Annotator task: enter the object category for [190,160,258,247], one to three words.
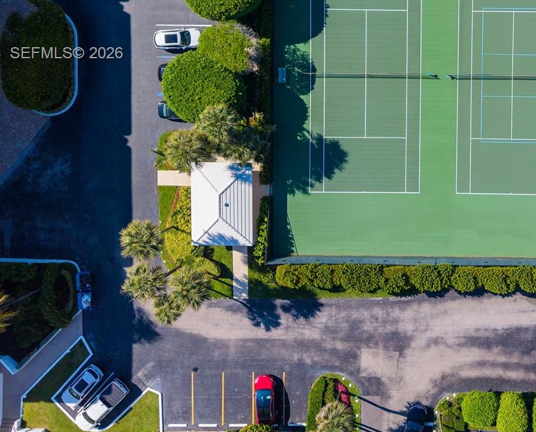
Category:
building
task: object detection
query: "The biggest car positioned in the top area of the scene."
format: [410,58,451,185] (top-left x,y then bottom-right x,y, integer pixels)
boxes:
[154,28,199,50]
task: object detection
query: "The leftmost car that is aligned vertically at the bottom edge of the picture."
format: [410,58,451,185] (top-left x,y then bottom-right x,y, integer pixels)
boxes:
[253,375,276,425]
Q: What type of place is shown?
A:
sports ground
